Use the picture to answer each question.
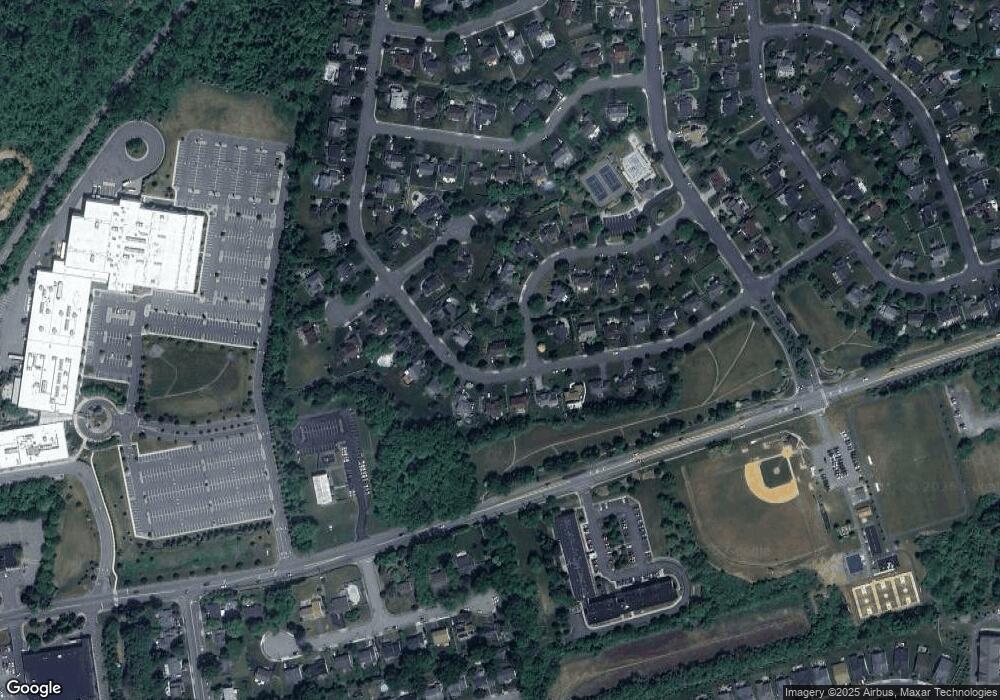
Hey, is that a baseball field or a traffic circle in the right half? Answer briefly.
baseball field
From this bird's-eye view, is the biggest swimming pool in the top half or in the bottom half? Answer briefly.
top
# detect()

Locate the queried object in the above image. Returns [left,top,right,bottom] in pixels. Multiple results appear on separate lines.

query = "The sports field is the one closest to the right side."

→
[864,397,962,530]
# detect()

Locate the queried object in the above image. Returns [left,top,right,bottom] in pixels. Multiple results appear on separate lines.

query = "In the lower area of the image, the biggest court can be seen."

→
[858,572,924,619]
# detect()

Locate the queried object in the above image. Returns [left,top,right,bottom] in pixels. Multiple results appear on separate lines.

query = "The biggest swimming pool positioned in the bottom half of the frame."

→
[348,585,360,604]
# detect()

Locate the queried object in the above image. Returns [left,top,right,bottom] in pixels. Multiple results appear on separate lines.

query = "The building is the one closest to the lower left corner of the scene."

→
[21,635,99,700]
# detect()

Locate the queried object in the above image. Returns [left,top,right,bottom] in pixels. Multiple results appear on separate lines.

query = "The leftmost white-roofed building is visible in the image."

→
[0,422,68,469]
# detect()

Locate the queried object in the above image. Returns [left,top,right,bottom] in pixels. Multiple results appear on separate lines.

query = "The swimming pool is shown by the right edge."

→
[946,68,965,84]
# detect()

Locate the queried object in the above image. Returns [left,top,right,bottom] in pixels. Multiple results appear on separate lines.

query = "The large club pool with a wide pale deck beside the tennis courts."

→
[621,150,656,186]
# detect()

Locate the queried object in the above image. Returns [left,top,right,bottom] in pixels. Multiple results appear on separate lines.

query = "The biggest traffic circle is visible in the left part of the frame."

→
[74,396,118,441]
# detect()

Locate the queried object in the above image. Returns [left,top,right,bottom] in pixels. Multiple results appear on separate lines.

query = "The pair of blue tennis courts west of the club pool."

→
[582,165,625,206]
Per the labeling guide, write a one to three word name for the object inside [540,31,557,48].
swimming pool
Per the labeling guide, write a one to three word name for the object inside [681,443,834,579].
baseball field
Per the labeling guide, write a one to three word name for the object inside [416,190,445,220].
house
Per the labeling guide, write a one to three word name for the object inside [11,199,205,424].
building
